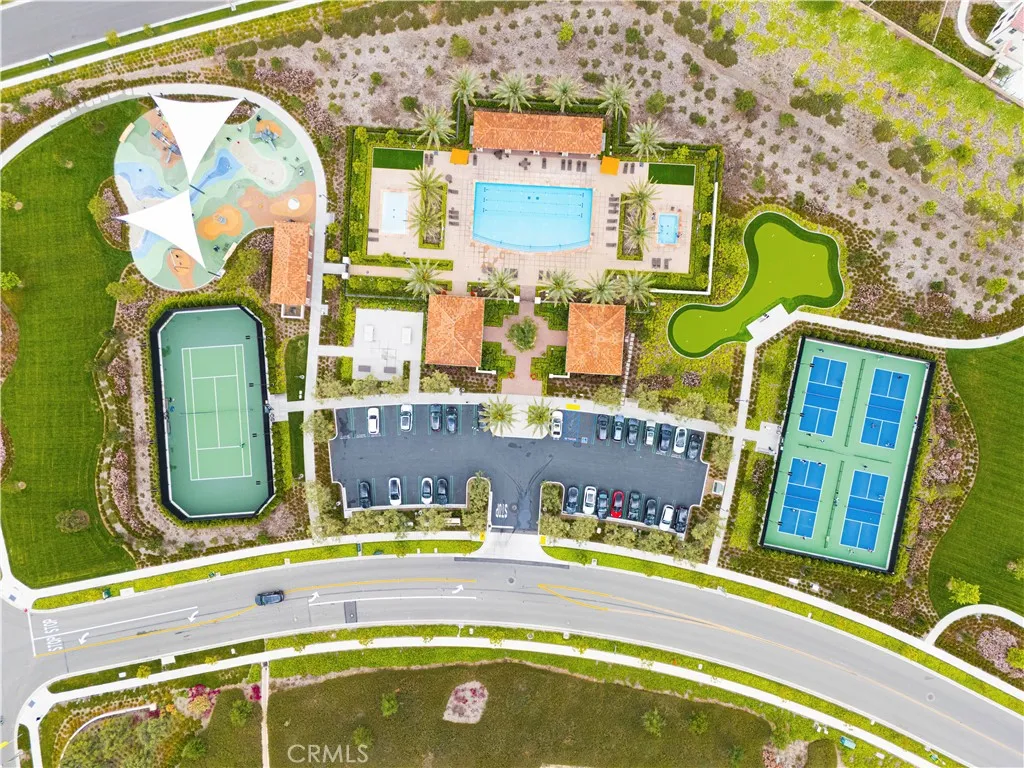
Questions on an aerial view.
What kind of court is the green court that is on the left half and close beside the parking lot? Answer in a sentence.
The green court that is on the left half and close beside the parking lot is a tennis court.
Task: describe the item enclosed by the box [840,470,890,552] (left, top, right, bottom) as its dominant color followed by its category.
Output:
blue sports court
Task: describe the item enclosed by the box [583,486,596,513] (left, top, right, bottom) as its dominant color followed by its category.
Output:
white vehicle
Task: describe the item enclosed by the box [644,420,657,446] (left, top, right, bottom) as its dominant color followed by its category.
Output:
white vehicle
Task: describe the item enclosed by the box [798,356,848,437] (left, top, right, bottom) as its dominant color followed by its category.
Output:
blue sports court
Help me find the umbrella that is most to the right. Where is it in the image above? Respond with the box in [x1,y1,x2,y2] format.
[600,156,620,176]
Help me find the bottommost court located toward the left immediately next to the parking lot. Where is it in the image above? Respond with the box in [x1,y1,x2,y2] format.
[157,308,269,518]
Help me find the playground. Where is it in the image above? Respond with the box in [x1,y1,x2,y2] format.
[112,108,318,292]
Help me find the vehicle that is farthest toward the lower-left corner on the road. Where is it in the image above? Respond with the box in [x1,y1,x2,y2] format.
[255,590,284,605]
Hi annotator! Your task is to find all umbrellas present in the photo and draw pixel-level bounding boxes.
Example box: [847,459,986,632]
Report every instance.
[600,156,620,176]
[450,147,469,166]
